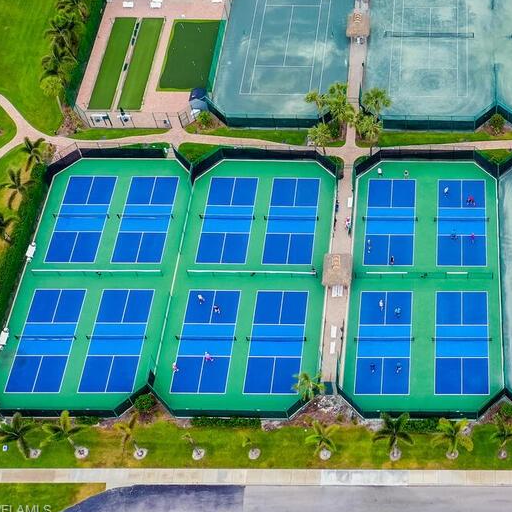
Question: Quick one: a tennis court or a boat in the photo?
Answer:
tennis court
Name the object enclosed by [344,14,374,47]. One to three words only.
shed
